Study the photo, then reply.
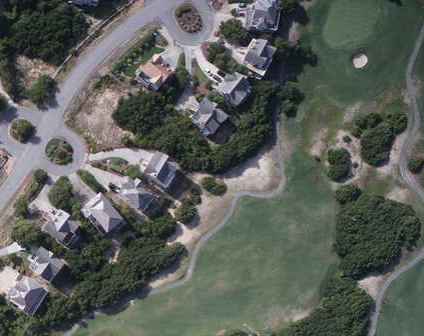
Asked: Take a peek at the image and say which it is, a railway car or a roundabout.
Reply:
roundabout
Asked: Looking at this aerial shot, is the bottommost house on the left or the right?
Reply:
left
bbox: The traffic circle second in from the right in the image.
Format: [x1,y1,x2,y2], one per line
[32,124,88,177]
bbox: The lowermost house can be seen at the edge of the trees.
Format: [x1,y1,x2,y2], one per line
[6,272,50,315]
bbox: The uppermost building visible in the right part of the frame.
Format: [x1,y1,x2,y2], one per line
[243,0,283,33]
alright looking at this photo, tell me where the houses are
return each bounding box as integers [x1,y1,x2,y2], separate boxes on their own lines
[133,52,174,88]
[208,68,253,110]
[6,272,50,315]
[40,205,83,252]
[116,176,157,215]
[140,150,181,189]
[242,36,274,80]
[28,245,67,282]
[186,95,232,136]
[243,0,283,33]
[79,191,126,235]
